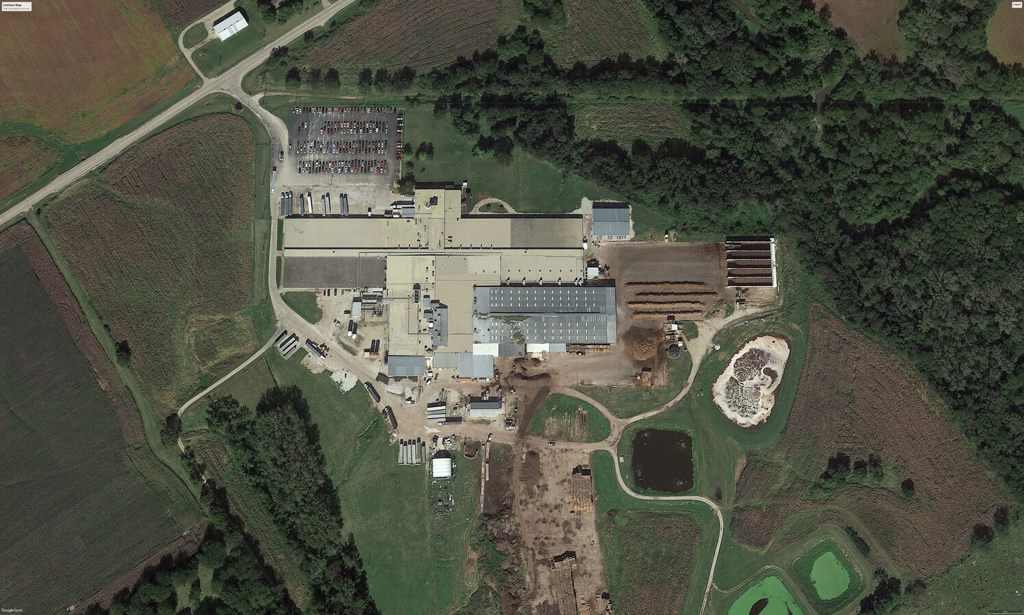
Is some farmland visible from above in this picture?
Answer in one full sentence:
Yes, farmland can be seen from above here.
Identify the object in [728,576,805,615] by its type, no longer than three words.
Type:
pond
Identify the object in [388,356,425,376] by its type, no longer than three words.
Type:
shed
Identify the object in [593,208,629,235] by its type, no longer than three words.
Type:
building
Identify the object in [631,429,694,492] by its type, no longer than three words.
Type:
pond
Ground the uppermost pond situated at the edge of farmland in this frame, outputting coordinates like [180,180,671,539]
[712,335,790,429]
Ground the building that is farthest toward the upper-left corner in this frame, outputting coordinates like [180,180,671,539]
[213,11,248,41]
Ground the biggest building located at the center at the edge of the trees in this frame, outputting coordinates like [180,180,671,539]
[284,189,583,355]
